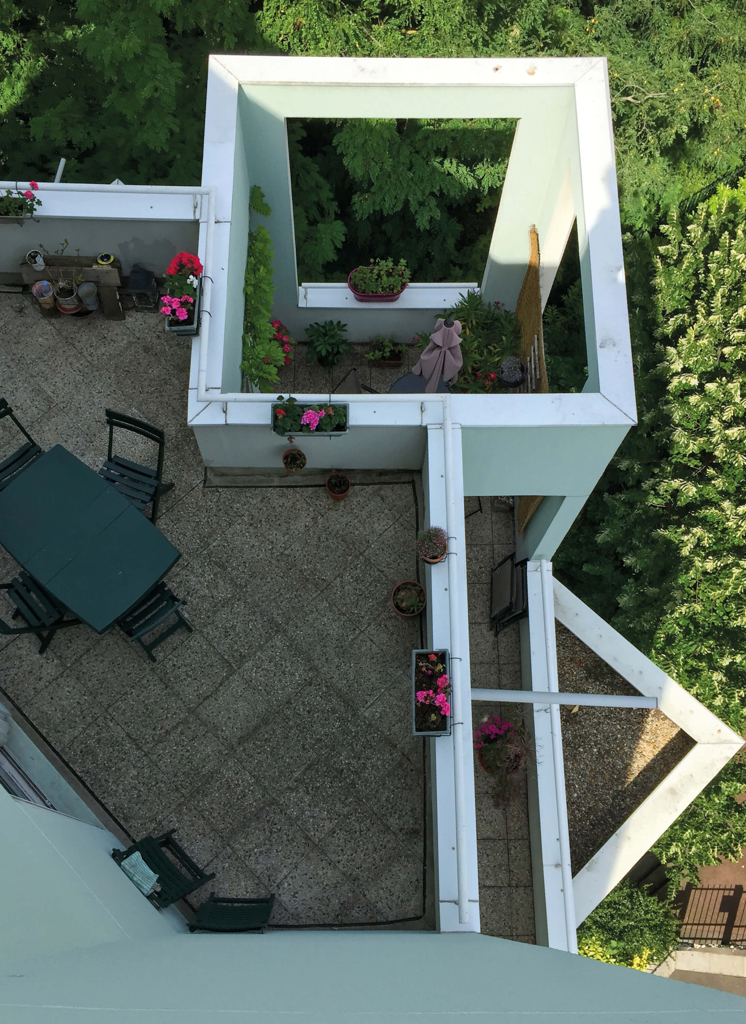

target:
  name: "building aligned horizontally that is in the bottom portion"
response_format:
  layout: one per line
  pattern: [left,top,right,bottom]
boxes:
[0,682,746,1024]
